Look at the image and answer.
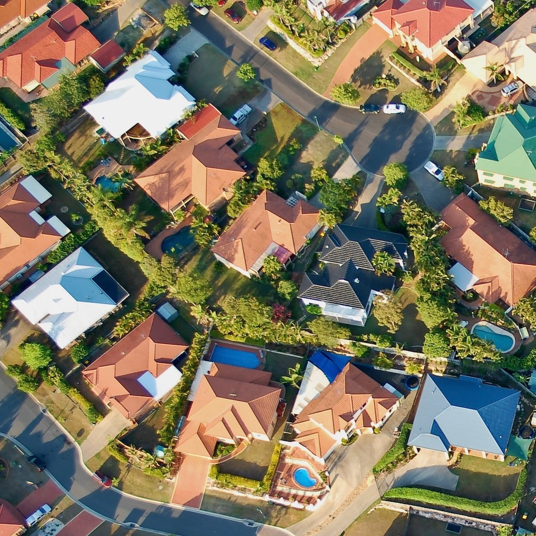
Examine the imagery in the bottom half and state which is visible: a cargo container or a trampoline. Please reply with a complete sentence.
It is a trampoline that can be seen in the bottom half.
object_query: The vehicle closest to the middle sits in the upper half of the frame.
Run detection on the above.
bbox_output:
[229,103,251,123]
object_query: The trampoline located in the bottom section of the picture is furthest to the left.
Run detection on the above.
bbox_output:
[403,375,421,392]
